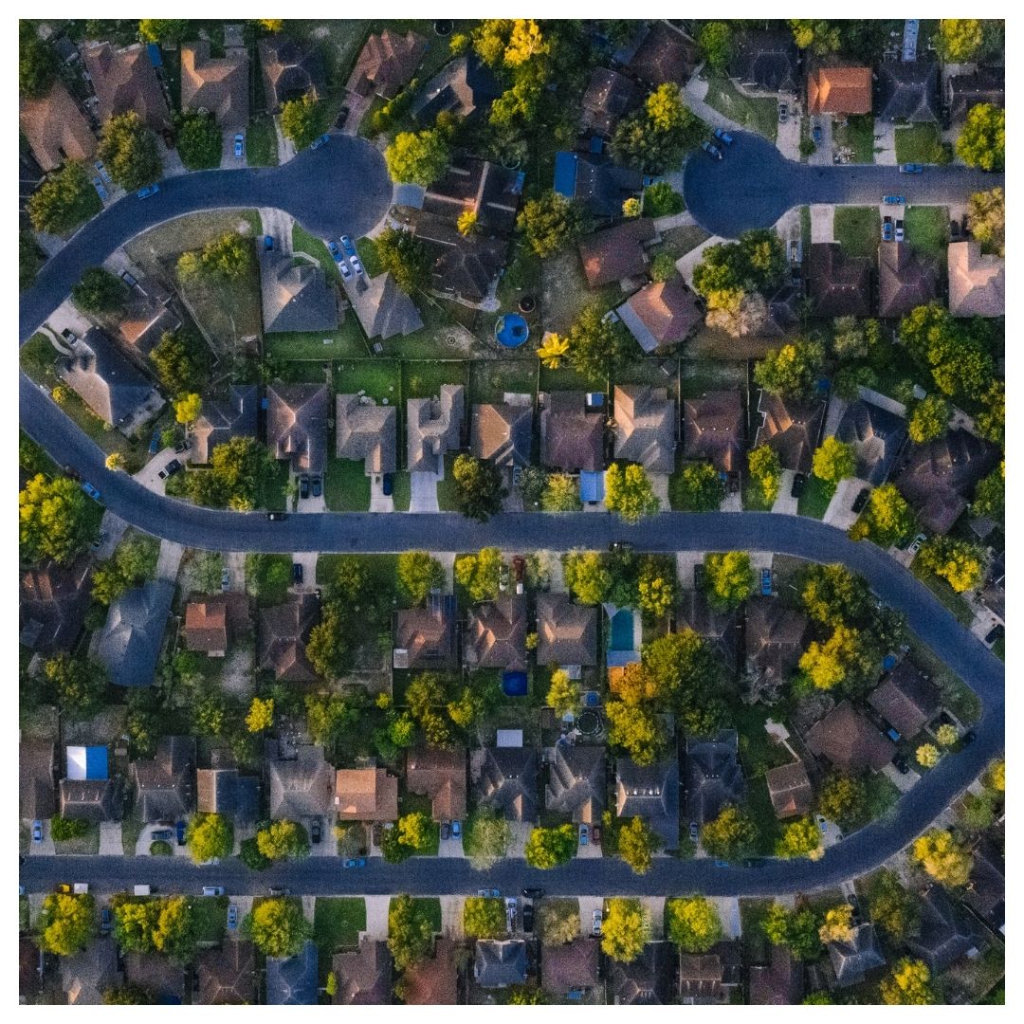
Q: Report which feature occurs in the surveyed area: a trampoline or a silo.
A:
trampoline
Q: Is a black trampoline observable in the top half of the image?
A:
Yes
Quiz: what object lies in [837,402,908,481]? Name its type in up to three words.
house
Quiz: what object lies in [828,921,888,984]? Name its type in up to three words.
house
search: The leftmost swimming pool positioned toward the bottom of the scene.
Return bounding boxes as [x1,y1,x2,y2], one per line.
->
[503,671,527,696]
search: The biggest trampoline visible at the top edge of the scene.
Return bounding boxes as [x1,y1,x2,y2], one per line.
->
[435,17,454,36]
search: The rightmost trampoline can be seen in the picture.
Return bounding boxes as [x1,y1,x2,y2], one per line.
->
[578,712,600,734]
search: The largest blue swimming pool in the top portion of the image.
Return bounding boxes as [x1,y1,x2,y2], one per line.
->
[496,314,529,348]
